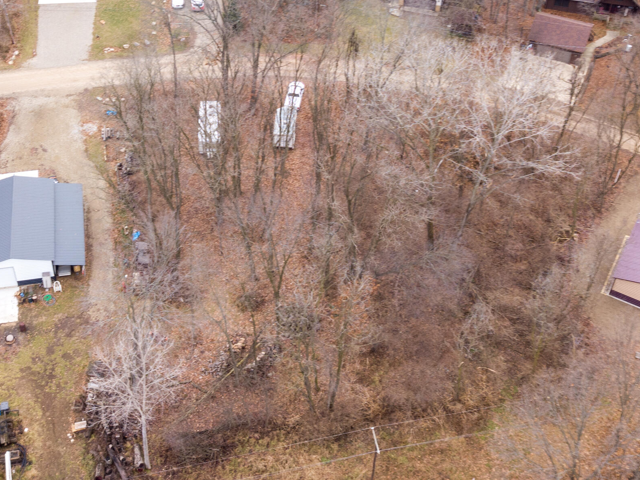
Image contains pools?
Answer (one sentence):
No, the picture doesn't show any pool.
